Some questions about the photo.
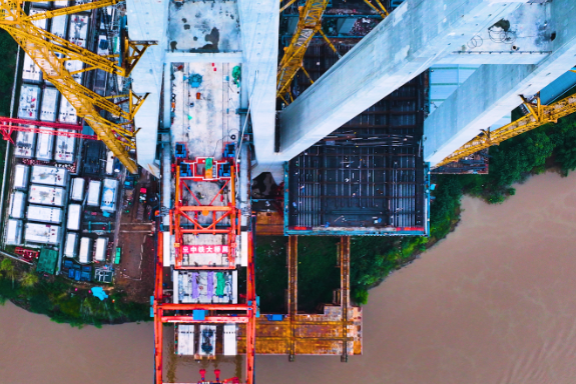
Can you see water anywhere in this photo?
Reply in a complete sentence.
Yes, there is water in the image.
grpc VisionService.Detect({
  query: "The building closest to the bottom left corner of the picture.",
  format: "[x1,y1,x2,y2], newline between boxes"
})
[38,247,62,273]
